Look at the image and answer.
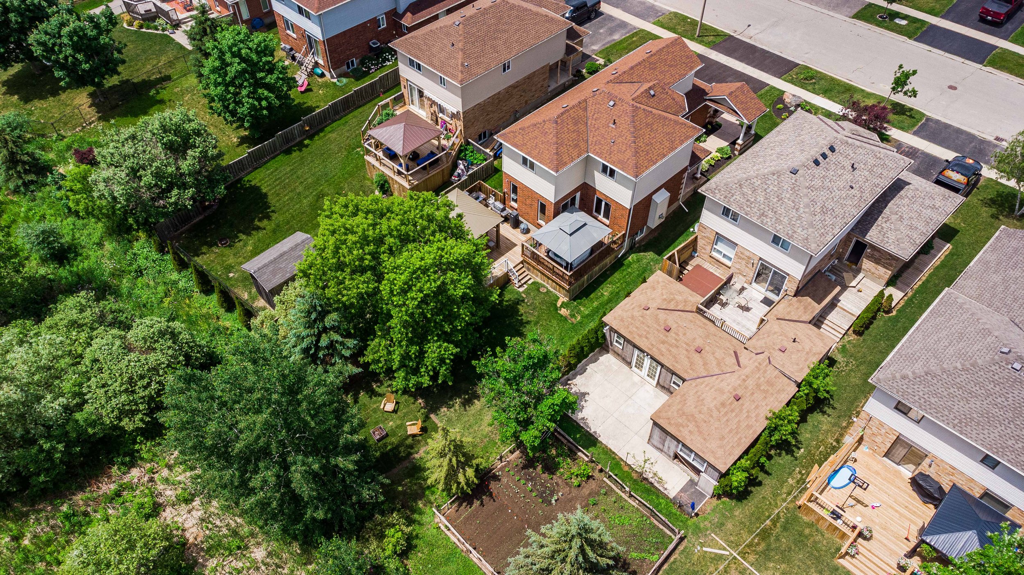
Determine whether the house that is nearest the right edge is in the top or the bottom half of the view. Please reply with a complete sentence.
The bottom half of the photo is where the house that is nearest the right edge is.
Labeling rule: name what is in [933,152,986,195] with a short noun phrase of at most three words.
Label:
truck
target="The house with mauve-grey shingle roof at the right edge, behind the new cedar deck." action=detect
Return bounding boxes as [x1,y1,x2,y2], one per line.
[841,227,1024,521]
